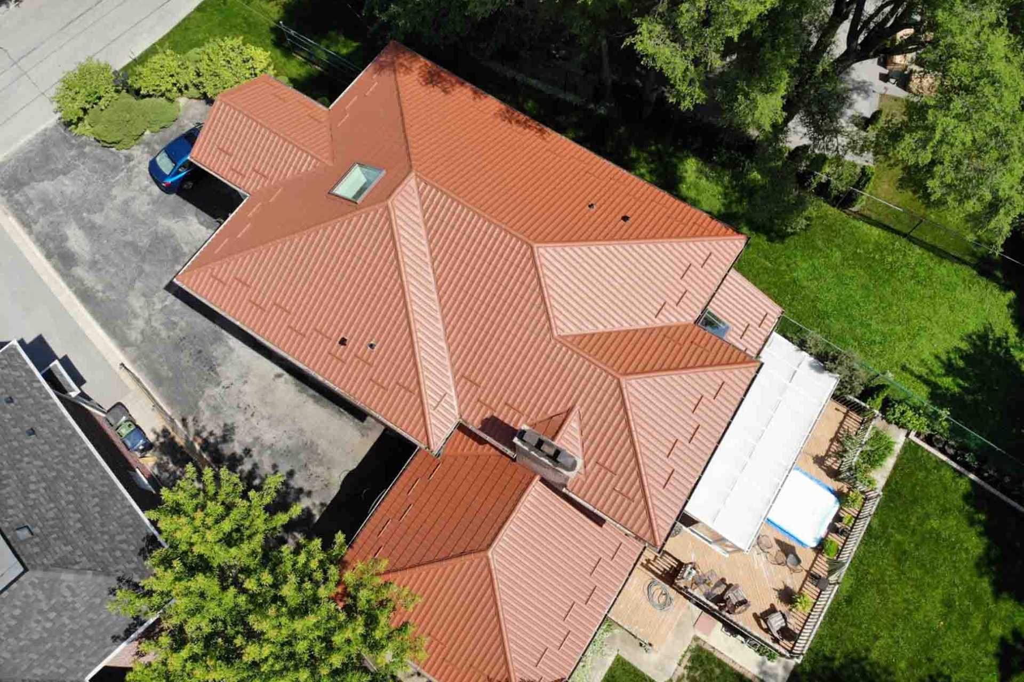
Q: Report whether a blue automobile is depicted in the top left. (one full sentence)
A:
Yes, a blue automobile can be seen in the top left.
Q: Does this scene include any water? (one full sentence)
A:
No, there's no water in this view.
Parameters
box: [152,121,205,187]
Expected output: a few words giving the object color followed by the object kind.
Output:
blue car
